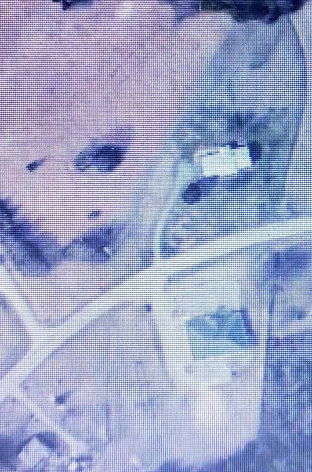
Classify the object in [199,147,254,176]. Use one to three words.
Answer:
house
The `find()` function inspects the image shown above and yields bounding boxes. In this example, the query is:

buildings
[19,437,51,470]
[186,311,253,361]
[199,147,254,176]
